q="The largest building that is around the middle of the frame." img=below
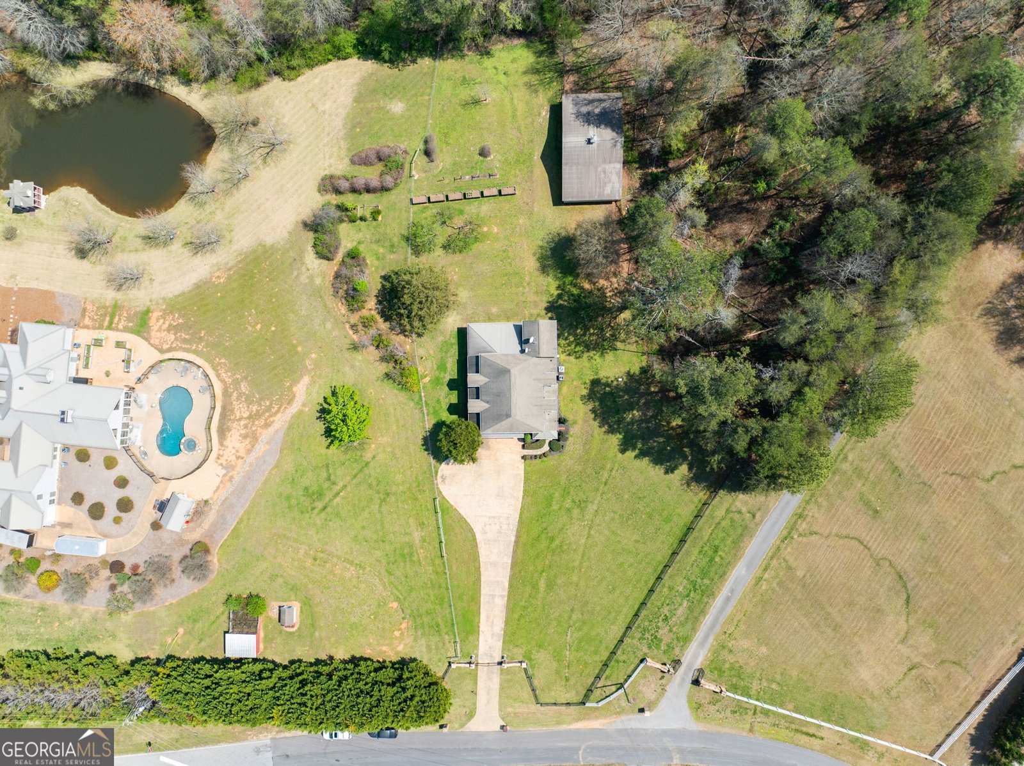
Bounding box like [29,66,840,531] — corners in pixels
[468,319,558,440]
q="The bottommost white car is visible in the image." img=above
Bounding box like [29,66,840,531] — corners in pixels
[324,727,353,743]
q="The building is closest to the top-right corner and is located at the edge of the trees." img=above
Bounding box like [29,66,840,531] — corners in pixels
[562,93,623,206]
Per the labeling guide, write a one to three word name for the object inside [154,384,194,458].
swimming pool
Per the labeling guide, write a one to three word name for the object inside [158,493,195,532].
shed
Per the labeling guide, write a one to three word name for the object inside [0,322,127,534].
house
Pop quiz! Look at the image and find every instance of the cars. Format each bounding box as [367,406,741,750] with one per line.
[368,726,398,741]
[324,727,353,743]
